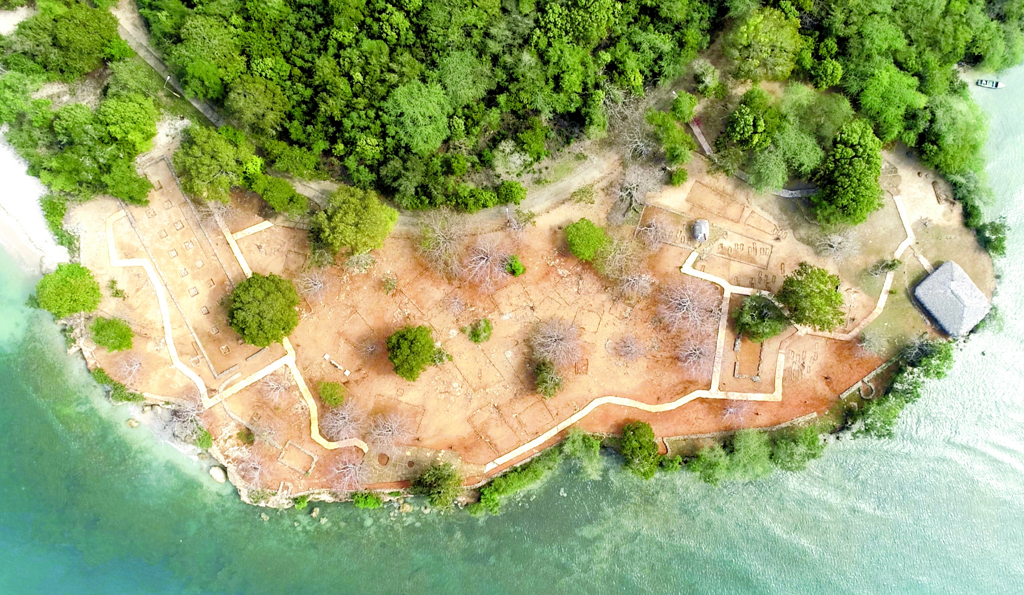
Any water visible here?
Yes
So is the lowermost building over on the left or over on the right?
right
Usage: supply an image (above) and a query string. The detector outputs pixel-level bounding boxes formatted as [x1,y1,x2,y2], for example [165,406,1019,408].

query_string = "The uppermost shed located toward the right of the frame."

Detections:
[691,218,711,244]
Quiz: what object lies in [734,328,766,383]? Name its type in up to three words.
building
